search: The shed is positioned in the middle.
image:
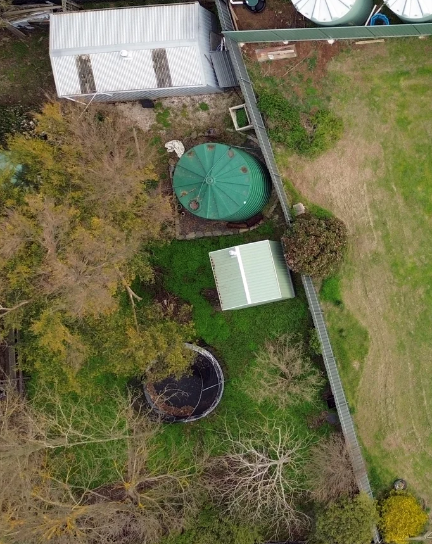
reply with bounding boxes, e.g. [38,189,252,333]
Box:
[209,239,292,311]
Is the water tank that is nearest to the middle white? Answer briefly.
No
